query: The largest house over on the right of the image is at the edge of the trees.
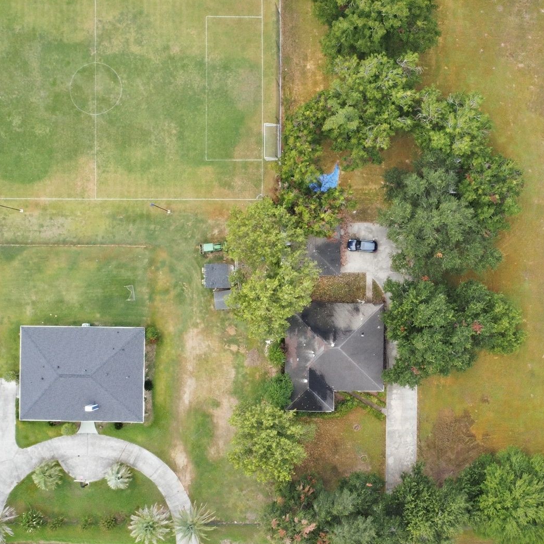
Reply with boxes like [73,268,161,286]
[285,303,384,411]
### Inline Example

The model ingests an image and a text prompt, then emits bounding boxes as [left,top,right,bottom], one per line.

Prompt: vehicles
[348,239,378,252]
[203,243,230,254]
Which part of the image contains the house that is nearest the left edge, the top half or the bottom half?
bottom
